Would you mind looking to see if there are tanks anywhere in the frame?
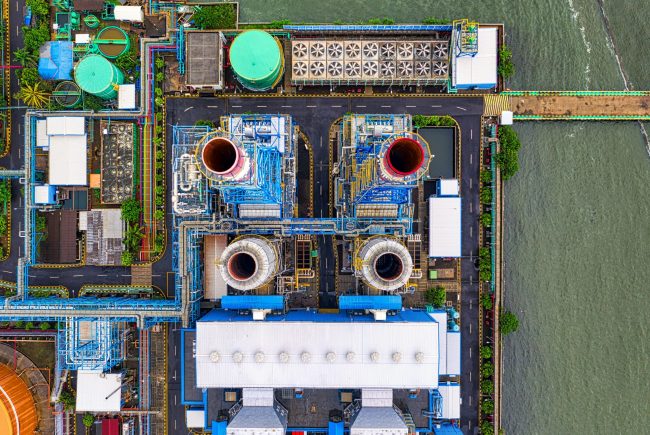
Yes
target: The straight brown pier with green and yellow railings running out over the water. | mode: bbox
[483,91,650,121]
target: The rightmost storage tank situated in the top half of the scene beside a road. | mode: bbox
[229,27,288,92]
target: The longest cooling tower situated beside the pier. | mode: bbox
[291,38,457,97]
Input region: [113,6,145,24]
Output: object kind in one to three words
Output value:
shed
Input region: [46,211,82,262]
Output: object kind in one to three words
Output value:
shed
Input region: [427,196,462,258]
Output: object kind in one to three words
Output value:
building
